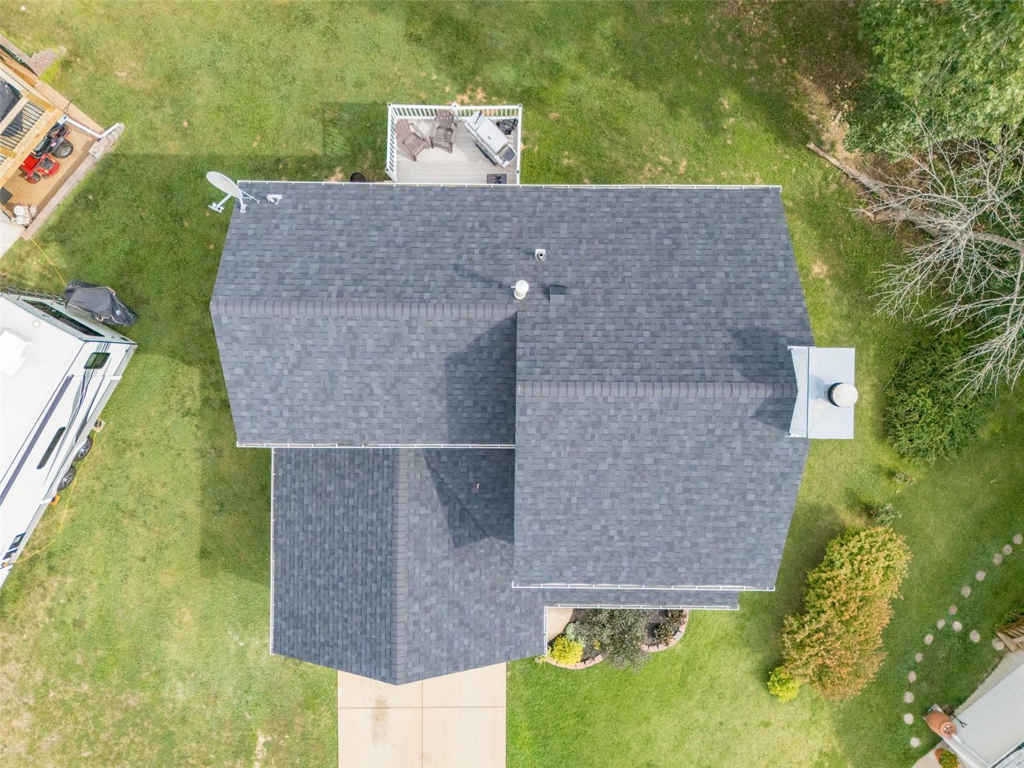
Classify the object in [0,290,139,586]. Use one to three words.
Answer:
trailer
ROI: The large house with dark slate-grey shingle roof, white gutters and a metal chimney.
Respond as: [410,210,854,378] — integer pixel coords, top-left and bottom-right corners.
[212,182,860,684]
